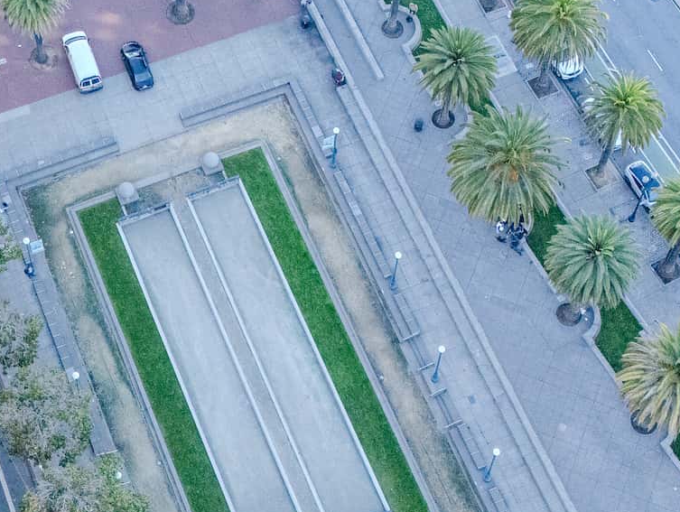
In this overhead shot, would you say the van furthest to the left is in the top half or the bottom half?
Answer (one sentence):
The van furthest to the left sits in the top half of the picture.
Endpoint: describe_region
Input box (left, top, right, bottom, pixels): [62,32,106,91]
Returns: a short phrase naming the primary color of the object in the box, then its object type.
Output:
white van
